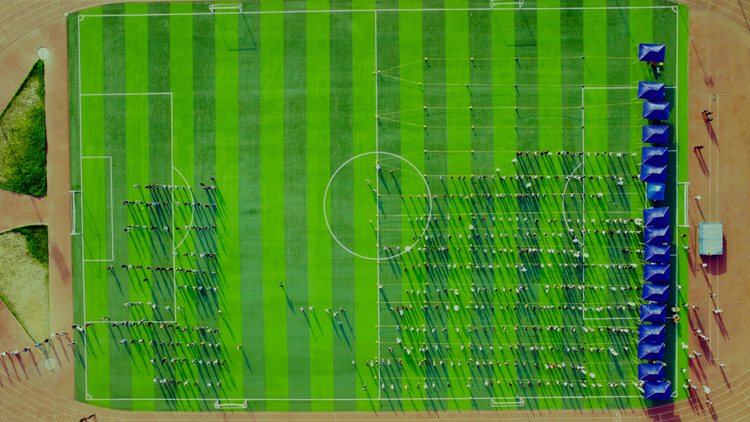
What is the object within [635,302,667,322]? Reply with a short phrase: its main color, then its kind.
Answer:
blue tent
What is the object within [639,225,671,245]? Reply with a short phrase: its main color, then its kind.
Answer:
blue tent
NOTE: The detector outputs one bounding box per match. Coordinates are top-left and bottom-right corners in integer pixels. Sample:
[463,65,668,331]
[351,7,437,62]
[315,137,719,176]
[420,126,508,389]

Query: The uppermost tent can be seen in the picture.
[633,43,666,64]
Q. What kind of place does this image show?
sports ground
